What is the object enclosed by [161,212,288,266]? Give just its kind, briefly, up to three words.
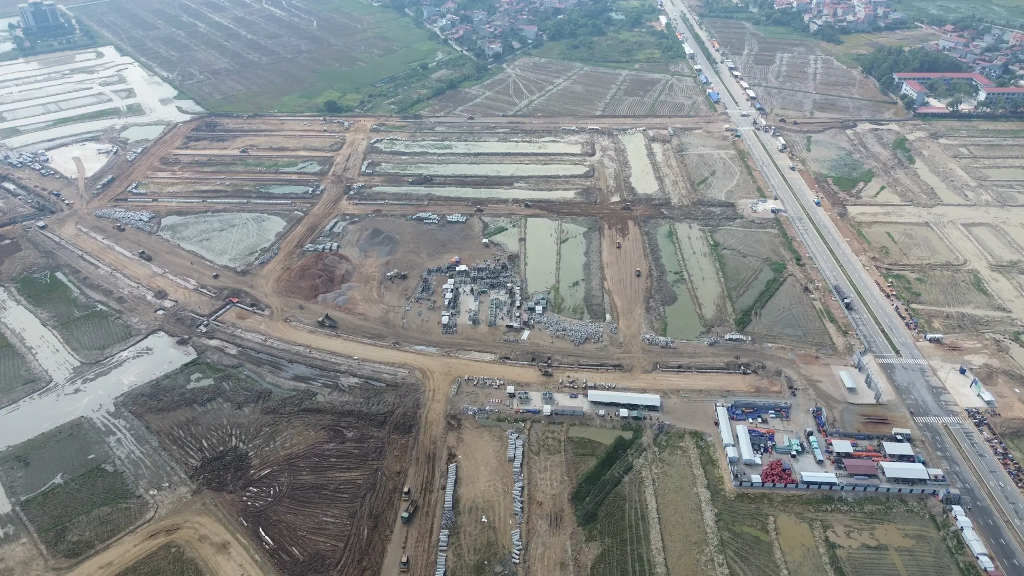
pond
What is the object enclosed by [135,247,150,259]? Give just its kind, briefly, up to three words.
vehicle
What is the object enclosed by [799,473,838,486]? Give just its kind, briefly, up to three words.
shed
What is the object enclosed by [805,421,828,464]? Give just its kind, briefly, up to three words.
truck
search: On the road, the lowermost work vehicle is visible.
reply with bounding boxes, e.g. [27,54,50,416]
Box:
[398,551,410,573]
